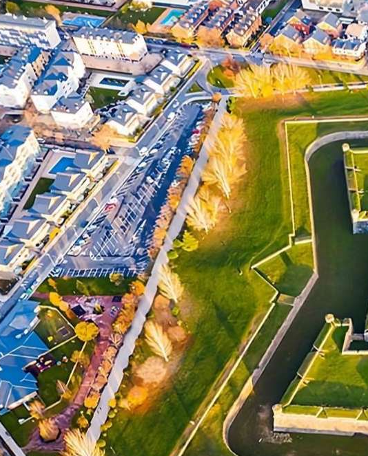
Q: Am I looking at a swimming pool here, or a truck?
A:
swimming pool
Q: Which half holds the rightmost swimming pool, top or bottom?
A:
top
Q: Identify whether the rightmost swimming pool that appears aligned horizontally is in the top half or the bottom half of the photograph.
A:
top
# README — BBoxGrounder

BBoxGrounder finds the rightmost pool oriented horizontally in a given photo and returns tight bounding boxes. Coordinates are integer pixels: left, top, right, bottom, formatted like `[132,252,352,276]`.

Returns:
[87,71,140,94]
